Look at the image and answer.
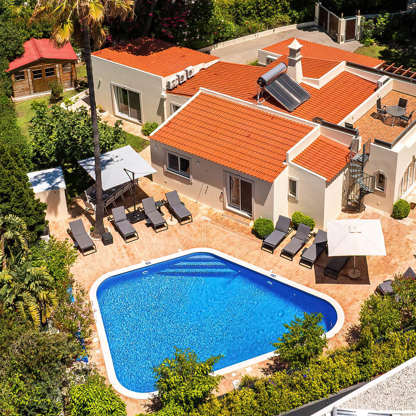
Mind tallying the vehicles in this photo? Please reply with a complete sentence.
There are no vehicles in this view.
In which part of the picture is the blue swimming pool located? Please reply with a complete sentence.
The blue swimming pool appears toward the bottom of the photo.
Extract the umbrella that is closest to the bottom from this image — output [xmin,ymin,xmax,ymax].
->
[327,220,386,278]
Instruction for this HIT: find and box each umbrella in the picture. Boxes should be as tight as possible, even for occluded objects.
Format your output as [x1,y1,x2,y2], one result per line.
[78,146,156,223]
[327,220,386,278]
